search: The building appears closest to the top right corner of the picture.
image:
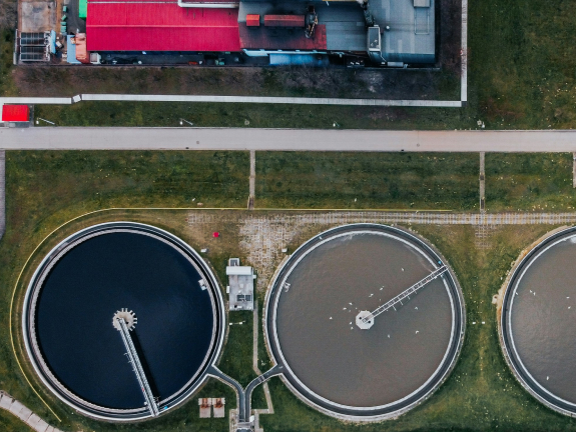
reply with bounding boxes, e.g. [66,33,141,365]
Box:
[358,0,435,67]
